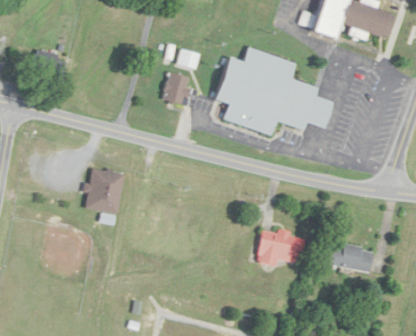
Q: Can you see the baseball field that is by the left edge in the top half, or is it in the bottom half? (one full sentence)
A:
You can find the baseball field that is by the left edge in the bottom half.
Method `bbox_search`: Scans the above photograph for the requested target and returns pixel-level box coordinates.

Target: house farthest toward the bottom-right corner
[332,244,374,274]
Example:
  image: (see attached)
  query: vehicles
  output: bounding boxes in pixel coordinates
[355,74,366,79]
[366,94,374,102]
